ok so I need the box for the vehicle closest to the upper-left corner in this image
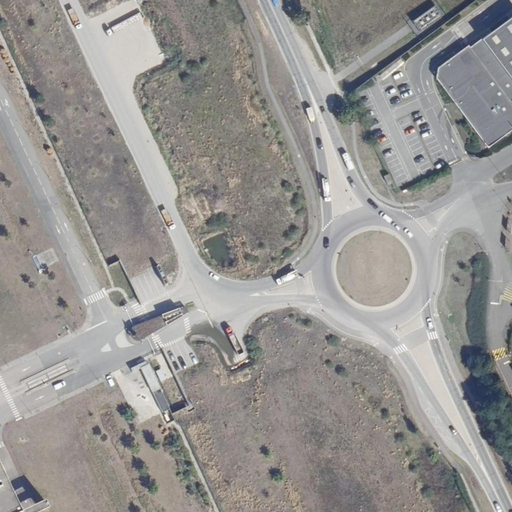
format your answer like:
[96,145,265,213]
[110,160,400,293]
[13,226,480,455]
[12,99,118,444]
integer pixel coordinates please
[67,8,80,28]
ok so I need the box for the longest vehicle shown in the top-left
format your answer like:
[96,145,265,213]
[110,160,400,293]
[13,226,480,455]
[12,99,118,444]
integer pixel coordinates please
[106,12,140,36]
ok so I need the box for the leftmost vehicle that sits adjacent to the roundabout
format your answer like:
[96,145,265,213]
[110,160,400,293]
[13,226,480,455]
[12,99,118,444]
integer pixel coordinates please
[278,270,298,284]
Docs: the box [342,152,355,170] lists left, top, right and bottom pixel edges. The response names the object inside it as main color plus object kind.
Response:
white vehicle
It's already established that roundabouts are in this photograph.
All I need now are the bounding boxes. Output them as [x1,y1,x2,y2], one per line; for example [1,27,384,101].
[309,204,438,333]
